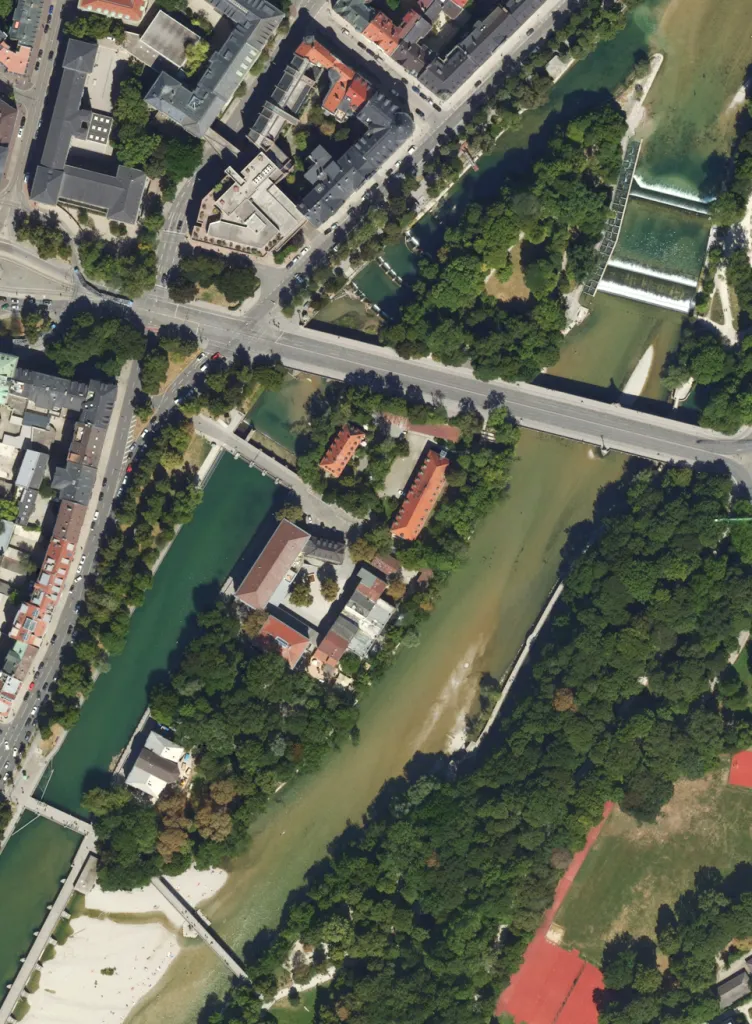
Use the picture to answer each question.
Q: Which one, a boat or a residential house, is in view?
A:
residential house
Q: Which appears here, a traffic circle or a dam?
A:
dam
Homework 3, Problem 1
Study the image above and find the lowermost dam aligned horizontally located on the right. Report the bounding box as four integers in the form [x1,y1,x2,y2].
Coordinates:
[595,263,695,319]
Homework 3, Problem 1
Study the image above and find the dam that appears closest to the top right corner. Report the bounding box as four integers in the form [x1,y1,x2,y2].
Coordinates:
[630,177,712,215]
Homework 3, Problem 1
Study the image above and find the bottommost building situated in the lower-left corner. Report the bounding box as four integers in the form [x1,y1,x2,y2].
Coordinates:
[73,852,98,894]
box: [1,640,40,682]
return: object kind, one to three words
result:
house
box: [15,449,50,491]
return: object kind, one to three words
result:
building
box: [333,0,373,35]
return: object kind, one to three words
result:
house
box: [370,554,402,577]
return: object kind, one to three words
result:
shed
